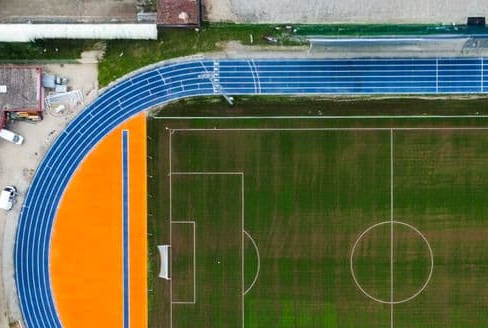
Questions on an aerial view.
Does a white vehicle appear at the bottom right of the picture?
No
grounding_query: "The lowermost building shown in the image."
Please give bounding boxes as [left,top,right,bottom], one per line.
[0,66,43,127]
